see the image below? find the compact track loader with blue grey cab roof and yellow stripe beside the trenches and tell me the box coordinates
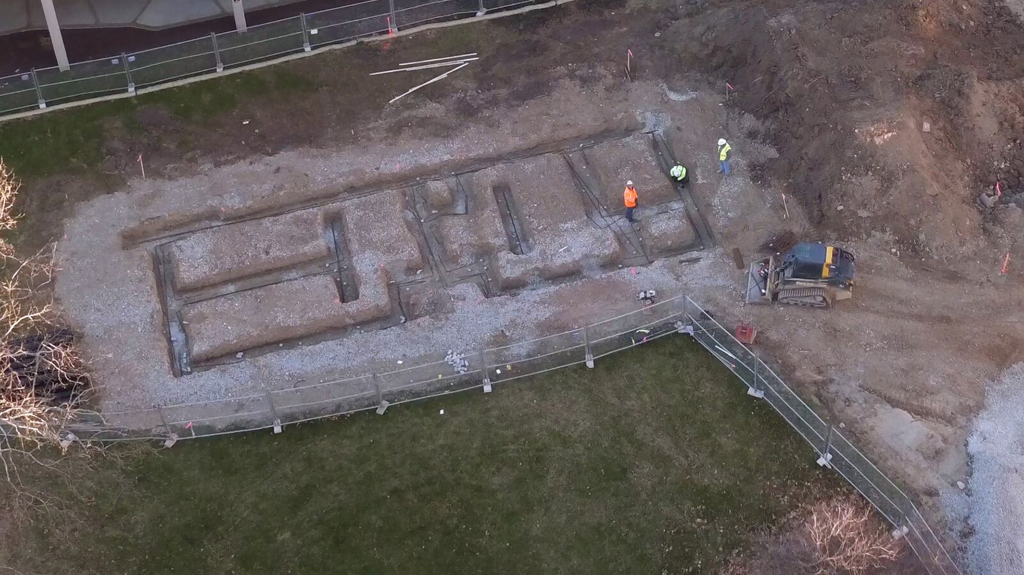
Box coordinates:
[744,241,857,308]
